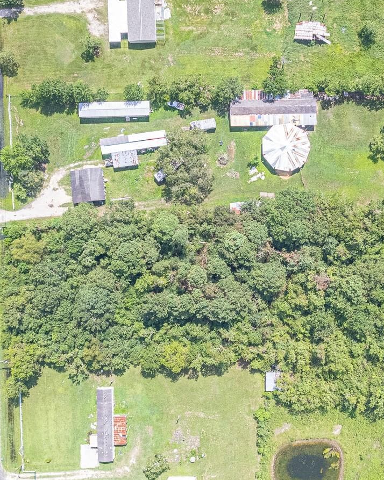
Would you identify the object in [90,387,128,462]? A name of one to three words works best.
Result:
house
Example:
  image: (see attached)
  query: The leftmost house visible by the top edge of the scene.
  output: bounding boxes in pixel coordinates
[108,0,166,46]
